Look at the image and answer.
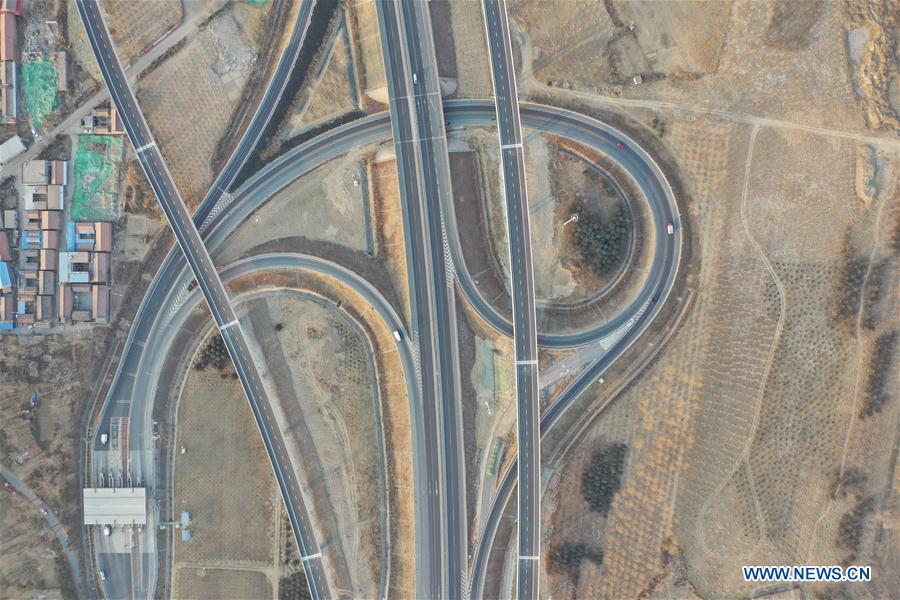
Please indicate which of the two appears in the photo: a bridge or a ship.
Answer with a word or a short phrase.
bridge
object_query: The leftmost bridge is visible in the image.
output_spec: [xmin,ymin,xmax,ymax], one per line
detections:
[74,0,334,600]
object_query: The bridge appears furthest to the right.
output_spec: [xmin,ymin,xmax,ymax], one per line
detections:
[482,0,541,600]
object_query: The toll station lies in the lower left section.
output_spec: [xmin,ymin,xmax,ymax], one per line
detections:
[83,469,147,532]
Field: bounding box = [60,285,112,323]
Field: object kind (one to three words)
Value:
house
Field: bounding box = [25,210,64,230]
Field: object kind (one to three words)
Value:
house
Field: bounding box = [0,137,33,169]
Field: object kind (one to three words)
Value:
building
